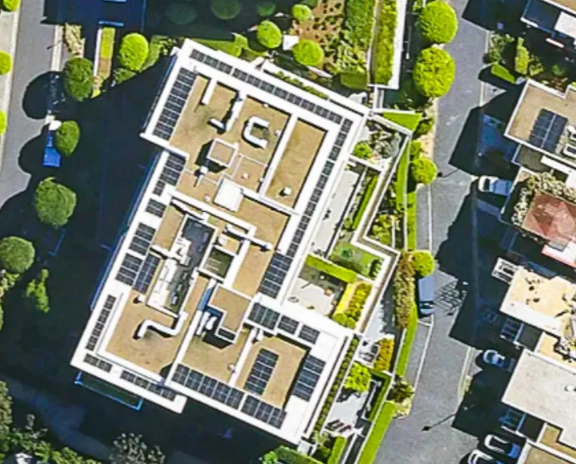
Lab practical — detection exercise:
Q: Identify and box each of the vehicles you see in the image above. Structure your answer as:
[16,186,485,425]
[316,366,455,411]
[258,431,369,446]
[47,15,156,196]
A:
[477,176,513,194]
[470,453,505,464]
[485,435,521,456]
[476,348,512,368]
[43,120,63,168]
[417,276,436,315]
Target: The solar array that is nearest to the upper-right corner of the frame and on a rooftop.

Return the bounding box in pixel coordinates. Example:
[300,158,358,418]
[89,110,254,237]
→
[529,108,568,153]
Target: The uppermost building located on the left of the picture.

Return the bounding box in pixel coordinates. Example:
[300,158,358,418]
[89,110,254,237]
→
[71,40,371,445]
